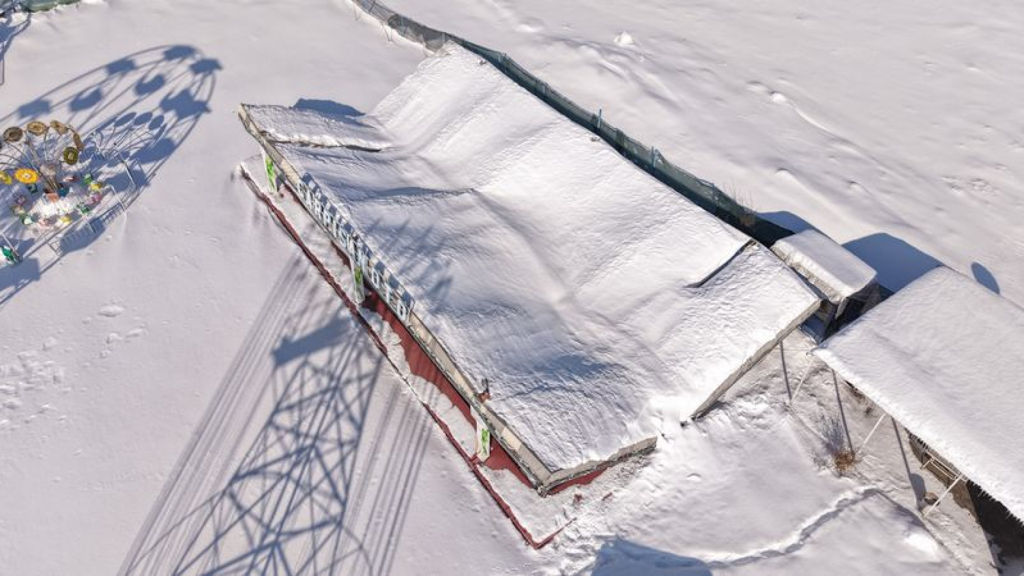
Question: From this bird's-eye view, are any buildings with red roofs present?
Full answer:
No, I can't see a single building with a red roof in this photo.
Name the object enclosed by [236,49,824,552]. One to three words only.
building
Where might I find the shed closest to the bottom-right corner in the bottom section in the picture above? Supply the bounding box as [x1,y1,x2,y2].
[790,270,1024,541]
